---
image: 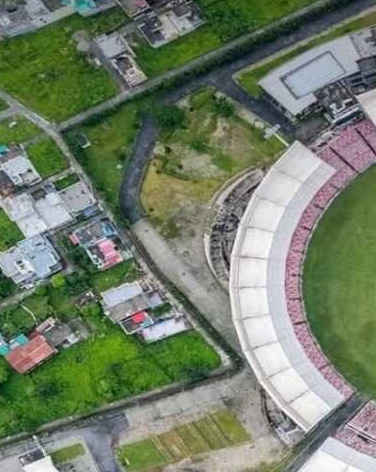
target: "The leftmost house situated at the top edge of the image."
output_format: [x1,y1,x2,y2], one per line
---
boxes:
[0,4,38,40]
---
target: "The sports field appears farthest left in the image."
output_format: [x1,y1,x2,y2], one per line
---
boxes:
[118,437,171,472]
